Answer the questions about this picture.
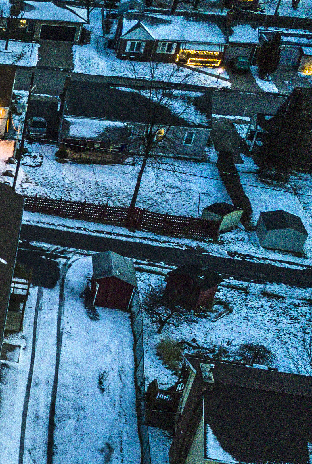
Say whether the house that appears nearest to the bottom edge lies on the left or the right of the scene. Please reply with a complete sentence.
The house that appears nearest to the bottom edge sits on the right side.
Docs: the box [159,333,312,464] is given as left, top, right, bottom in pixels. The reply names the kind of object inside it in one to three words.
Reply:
house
